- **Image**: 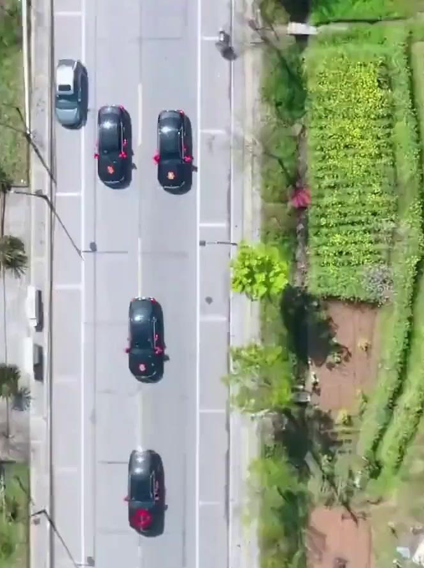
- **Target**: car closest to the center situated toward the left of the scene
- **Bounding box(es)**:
[123,298,159,379]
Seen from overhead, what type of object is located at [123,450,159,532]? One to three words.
car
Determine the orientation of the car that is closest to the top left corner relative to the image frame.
from top to bottom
